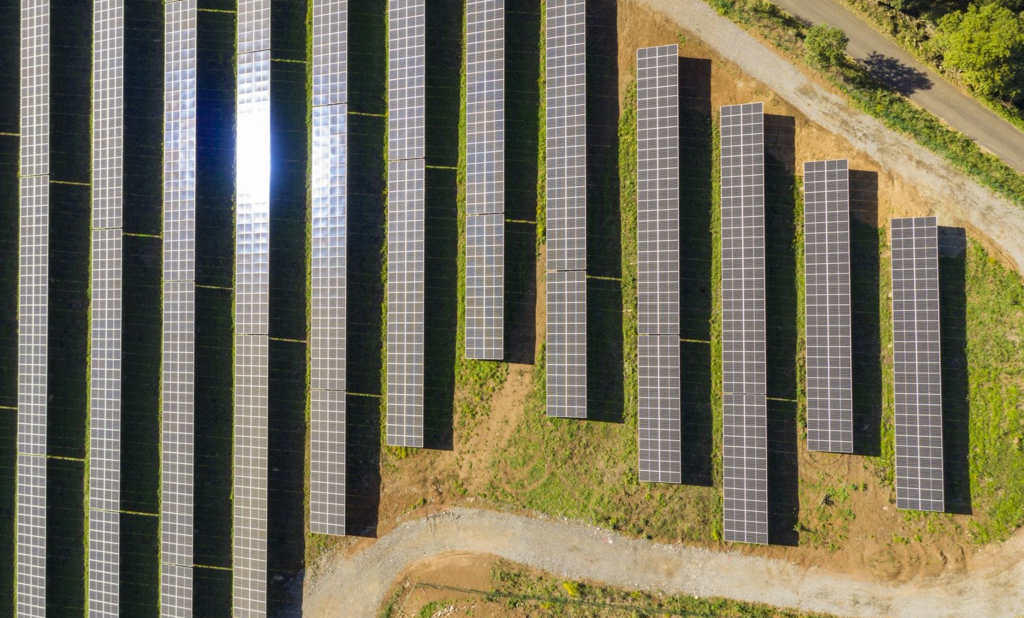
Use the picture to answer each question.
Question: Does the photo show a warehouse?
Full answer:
No, I find no warehouse anywhere in the image.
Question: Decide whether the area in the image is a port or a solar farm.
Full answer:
The picture captures a solar farm.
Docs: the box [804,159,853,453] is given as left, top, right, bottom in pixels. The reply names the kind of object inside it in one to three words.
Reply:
solar array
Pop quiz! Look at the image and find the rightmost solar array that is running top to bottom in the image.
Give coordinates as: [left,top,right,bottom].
[888,216,944,512]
